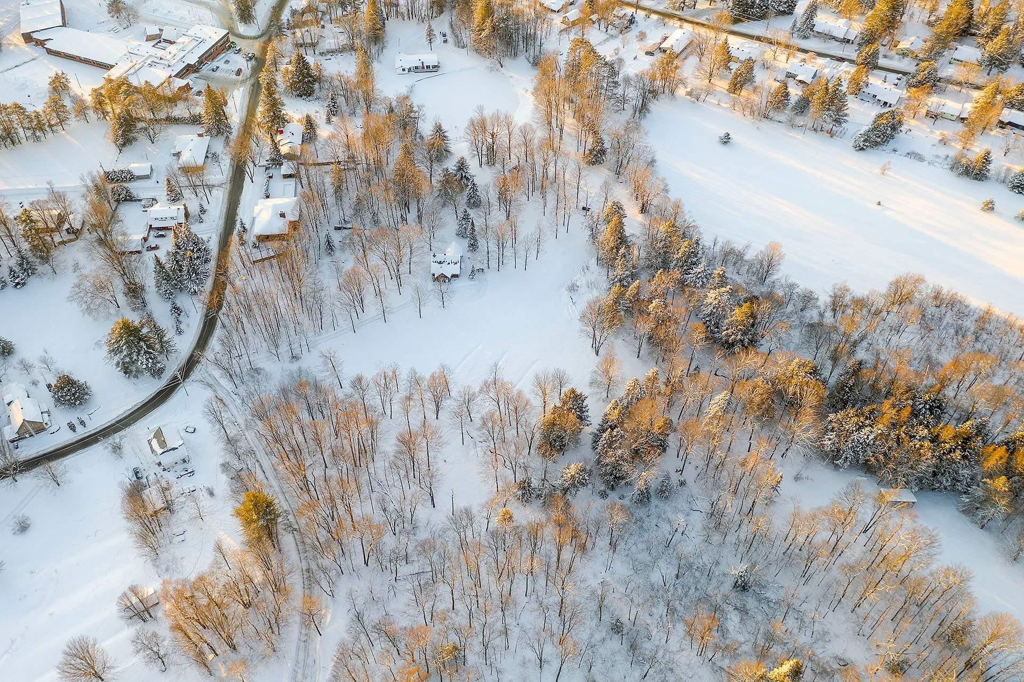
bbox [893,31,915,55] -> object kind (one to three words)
building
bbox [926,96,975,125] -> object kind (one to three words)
house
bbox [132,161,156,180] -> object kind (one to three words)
shed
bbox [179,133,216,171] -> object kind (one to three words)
house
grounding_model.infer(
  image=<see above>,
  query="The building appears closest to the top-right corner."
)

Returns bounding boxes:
[952,47,987,70]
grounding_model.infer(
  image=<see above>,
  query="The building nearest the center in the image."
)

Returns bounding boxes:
[431,240,464,283]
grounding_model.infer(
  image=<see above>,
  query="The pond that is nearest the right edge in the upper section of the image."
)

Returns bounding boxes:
[404,76,526,121]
